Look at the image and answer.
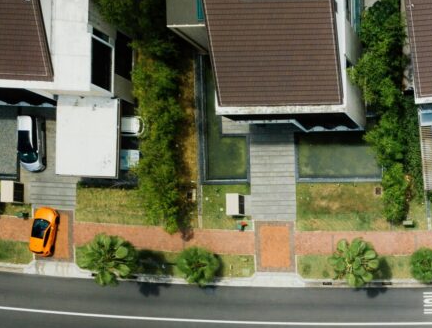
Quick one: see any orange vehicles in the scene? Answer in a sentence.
Yes, there's an orange vehicle down there.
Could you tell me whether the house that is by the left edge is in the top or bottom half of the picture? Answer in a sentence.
The house that is by the left edge sits in the top half of the picture.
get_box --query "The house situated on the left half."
[0,0,137,180]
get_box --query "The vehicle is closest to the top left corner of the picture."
[13,115,48,173]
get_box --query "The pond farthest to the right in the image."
[296,129,382,182]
